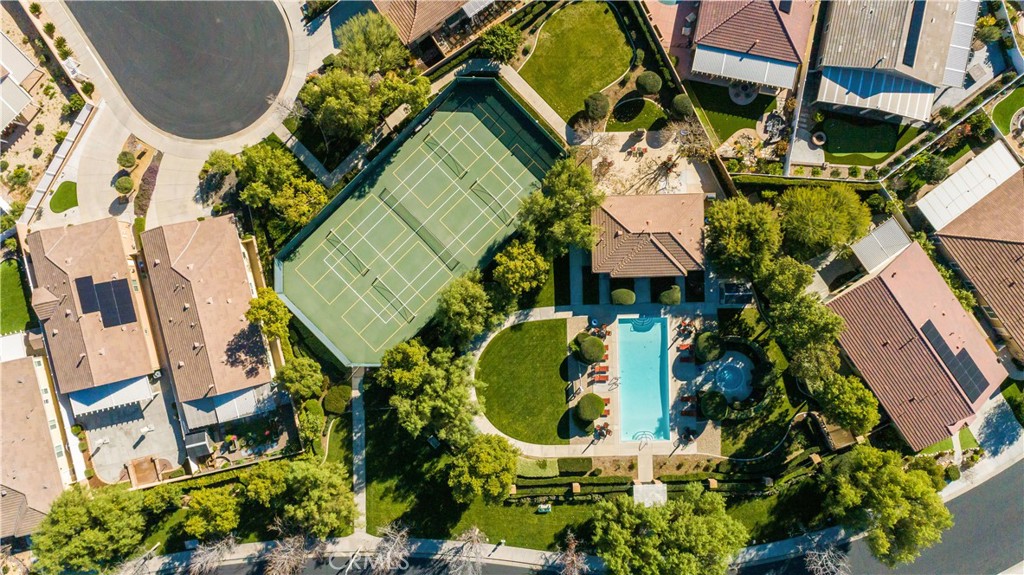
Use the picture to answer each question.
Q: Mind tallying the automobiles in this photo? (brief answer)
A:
none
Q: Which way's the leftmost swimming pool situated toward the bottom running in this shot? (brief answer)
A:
from top to bottom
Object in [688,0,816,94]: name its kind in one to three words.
house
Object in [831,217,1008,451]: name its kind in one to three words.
house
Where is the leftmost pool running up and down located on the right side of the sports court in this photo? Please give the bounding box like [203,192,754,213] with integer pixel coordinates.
[616,314,670,448]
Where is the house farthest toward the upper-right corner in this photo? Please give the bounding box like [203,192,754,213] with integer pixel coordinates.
[810,0,980,126]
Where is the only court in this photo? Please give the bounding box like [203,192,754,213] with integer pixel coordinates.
[283,85,565,363]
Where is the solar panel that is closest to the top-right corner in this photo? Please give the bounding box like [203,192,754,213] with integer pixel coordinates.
[903,0,925,64]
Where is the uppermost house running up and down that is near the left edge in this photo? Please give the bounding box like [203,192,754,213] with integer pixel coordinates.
[0,30,50,136]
